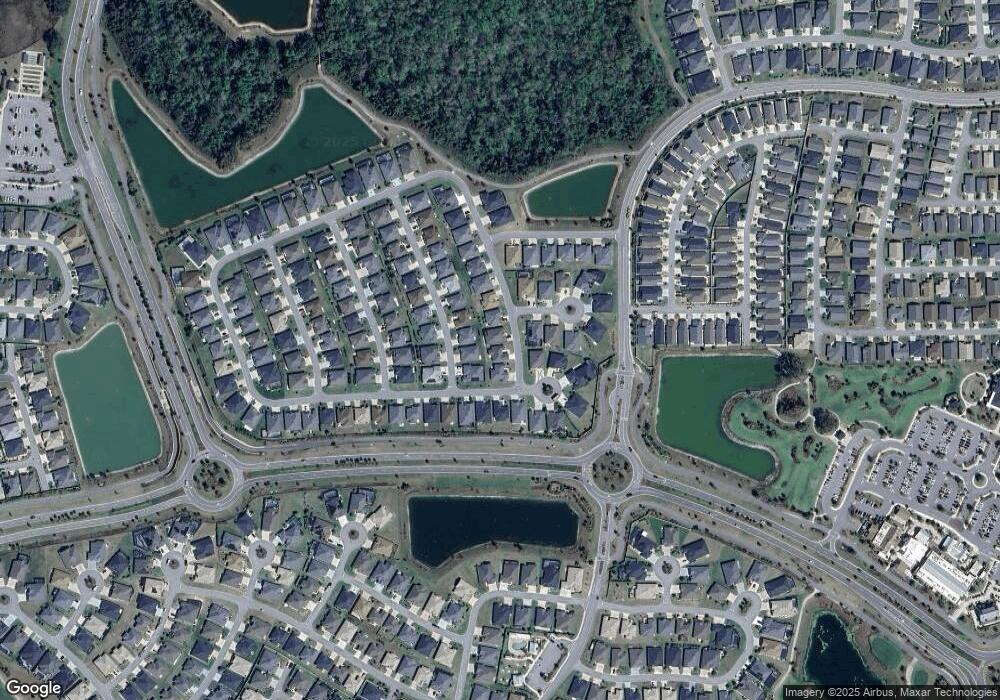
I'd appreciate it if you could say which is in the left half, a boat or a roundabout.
roundabout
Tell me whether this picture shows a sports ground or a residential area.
residential area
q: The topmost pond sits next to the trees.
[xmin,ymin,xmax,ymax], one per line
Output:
[213,0,312,31]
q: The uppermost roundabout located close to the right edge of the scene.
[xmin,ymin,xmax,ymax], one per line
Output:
[966,466,994,494]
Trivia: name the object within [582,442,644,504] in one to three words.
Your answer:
roundabout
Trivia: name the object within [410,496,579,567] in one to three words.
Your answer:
pond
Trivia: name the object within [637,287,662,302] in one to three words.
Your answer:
house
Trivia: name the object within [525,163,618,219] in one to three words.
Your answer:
pond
